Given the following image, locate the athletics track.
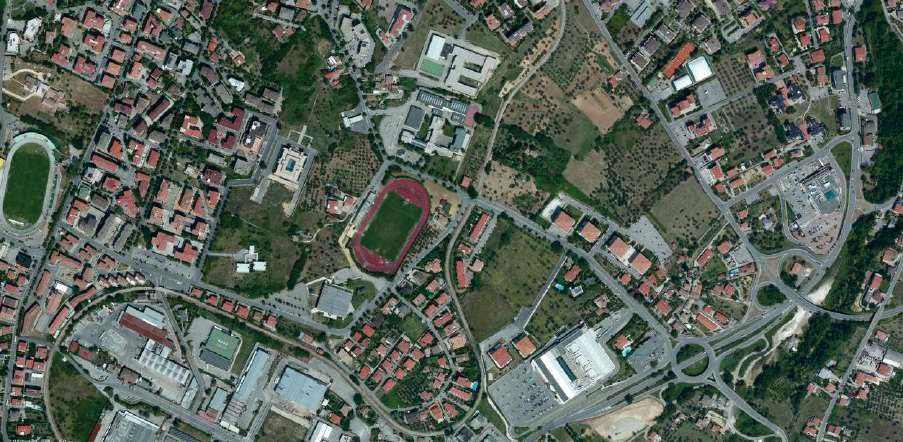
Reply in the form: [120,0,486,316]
[353,176,431,275]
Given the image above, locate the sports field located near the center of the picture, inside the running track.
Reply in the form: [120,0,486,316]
[363,192,422,262]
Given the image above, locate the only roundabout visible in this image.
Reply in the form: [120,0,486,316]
[672,338,715,382]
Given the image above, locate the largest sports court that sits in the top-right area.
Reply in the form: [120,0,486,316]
[698,79,725,105]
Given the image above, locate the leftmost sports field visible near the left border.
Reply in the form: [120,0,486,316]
[4,144,50,228]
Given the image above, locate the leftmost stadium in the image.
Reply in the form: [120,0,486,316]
[0,134,60,237]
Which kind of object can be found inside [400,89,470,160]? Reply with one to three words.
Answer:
building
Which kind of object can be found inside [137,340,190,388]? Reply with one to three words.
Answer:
building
